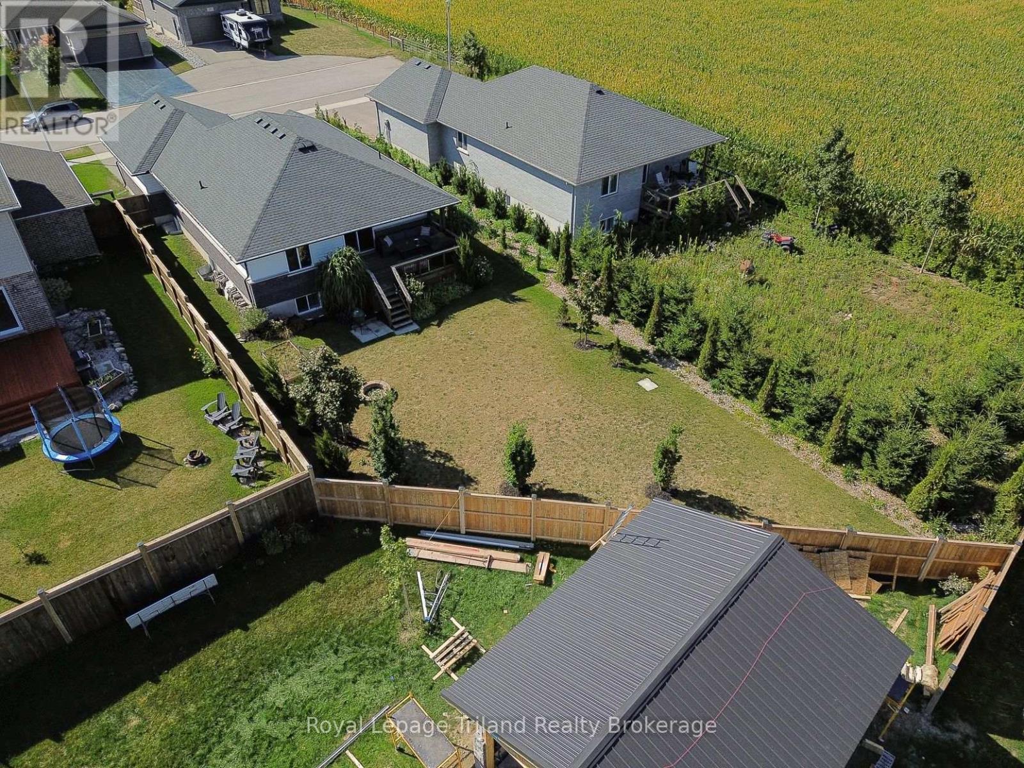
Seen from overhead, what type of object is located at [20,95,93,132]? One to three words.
car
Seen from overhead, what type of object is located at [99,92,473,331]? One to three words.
house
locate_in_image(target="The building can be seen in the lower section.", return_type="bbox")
[440,497,913,768]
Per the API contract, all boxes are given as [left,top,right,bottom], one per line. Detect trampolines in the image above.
[17,371,125,475]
